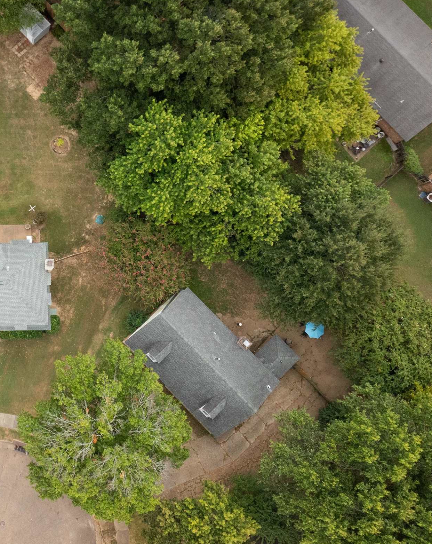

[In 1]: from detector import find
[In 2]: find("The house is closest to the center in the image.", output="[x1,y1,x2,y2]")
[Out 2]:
[122,287,301,437]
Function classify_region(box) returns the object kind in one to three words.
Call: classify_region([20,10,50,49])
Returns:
shed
